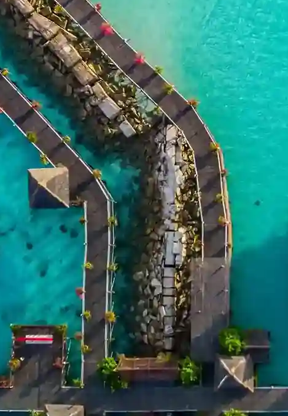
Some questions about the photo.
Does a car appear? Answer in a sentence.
No, this view has no car in it.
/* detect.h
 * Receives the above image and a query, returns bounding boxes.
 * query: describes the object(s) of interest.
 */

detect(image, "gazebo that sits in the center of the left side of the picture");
[27,166,73,209]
